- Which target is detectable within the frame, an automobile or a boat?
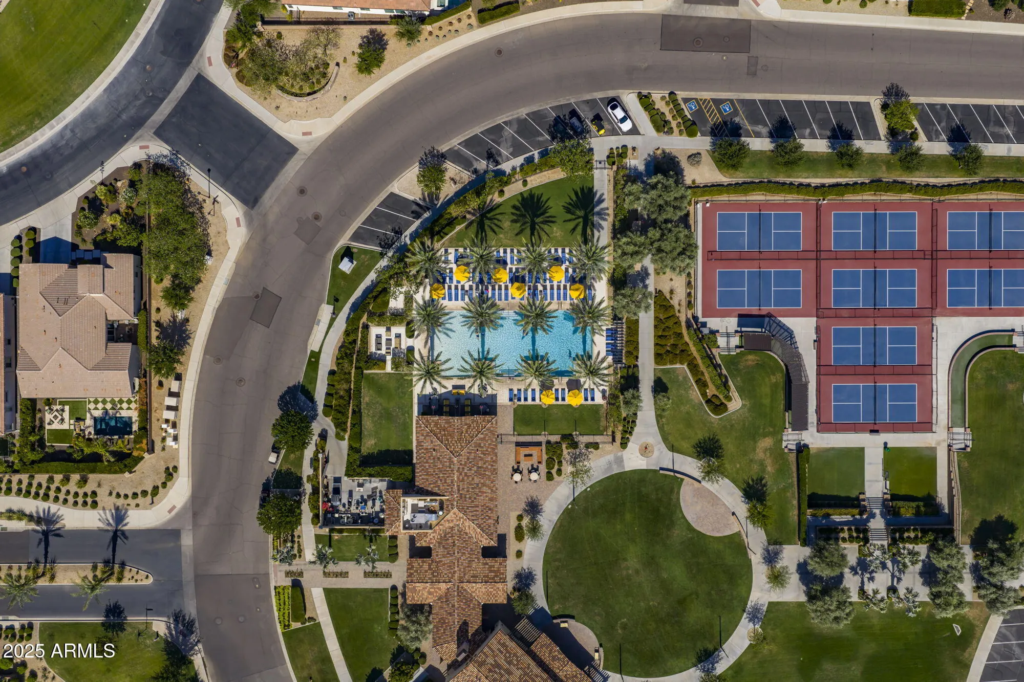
automobile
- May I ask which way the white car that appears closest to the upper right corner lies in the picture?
at an angle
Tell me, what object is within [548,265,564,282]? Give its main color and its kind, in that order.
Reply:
yellow umbrella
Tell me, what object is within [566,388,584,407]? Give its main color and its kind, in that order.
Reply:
yellow umbrella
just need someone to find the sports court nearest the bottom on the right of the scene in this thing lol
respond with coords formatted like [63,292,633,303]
[819,375,934,433]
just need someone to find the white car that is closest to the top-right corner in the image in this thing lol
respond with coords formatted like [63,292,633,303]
[607,100,631,130]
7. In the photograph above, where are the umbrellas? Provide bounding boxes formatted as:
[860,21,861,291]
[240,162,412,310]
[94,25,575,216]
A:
[453,264,471,282]
[430,283,446,299]
[569,283,586,299]
[548,265,564,282]
[566,388,584,407]
[492,268,508,284]
[539,389,556,405]
[509,281,527,299]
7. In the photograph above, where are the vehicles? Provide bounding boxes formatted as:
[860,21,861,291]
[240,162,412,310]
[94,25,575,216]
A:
[564,107,583,134]
[549,109,568,136]
[607,100,631,130]
[587,112,604,137]
[268,445,285,466]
